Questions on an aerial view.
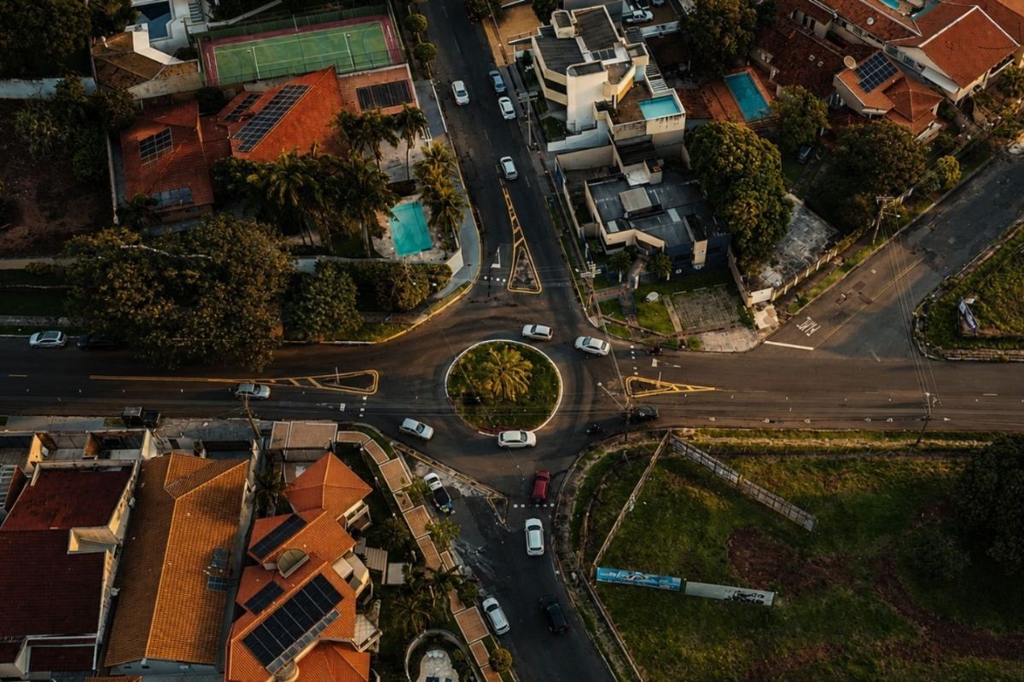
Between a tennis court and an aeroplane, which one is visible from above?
tennis court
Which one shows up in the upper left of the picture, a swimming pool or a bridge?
swimming pool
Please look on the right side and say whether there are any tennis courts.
No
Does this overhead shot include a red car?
Yes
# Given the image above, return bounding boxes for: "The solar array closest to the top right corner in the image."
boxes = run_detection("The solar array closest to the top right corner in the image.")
[855,52,898,92]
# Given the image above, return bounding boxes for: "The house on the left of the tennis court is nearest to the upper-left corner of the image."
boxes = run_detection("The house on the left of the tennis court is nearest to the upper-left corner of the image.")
[92,30,206,108]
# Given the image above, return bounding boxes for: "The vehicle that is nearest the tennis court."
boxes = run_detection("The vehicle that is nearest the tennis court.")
[451,79,470,103]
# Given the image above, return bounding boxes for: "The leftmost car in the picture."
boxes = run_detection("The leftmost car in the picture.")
[29,329,66,347]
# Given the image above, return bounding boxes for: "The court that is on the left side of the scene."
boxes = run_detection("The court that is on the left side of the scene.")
[202,8,404,88]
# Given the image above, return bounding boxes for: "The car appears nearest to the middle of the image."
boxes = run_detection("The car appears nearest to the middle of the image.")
[518,320,557,340]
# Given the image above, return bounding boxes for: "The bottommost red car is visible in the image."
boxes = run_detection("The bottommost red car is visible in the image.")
[532,470,551,503]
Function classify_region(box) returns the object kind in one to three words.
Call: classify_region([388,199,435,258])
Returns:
swimming pool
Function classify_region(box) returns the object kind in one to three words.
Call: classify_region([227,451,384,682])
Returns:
house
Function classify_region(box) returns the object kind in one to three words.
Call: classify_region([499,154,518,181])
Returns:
car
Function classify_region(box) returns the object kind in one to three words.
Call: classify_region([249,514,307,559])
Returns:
solar array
